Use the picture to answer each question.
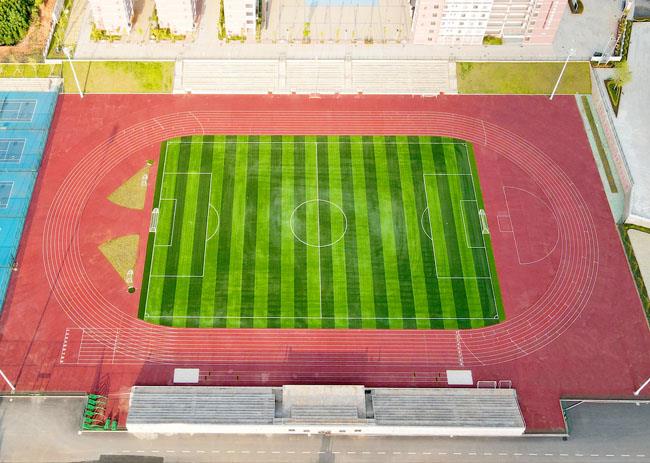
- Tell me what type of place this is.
sports ground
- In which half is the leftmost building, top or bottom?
top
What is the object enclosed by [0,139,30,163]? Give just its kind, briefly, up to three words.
tennis court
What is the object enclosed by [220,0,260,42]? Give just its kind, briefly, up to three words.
building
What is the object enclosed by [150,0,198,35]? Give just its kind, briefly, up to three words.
building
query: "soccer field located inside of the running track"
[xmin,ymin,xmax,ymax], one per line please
[138,135,506,330]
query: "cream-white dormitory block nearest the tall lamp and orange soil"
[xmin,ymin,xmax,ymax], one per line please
[83,0,136,34]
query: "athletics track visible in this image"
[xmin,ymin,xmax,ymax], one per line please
[0,93,650,434]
